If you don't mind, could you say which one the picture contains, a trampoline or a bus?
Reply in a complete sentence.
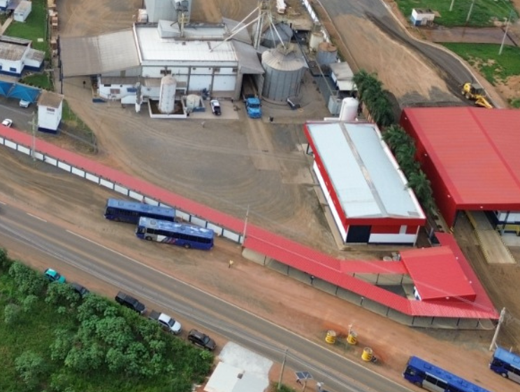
This aerial view contains a bus.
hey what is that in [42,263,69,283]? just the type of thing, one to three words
car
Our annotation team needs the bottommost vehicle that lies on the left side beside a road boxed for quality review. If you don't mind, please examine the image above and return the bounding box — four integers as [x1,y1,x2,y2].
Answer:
[185,324,218,350]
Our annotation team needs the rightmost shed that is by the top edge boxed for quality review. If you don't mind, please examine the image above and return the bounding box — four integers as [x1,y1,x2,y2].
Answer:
[410,8,435,28]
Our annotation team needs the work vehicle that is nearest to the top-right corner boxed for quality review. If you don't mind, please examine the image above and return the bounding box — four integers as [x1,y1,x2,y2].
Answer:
[456,79,500,105]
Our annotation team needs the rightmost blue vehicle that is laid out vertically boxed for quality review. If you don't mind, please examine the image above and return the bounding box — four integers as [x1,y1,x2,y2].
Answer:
[245,84,261,115]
